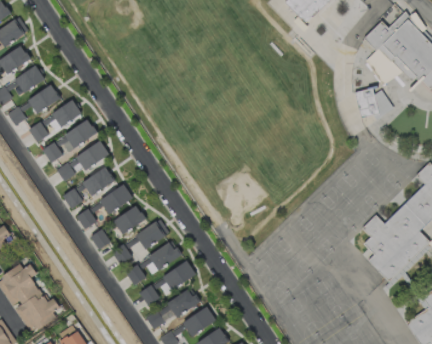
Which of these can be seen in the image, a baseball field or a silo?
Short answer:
baseball field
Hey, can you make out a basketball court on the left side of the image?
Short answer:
No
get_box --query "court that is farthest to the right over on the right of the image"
[361,143,406,188]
